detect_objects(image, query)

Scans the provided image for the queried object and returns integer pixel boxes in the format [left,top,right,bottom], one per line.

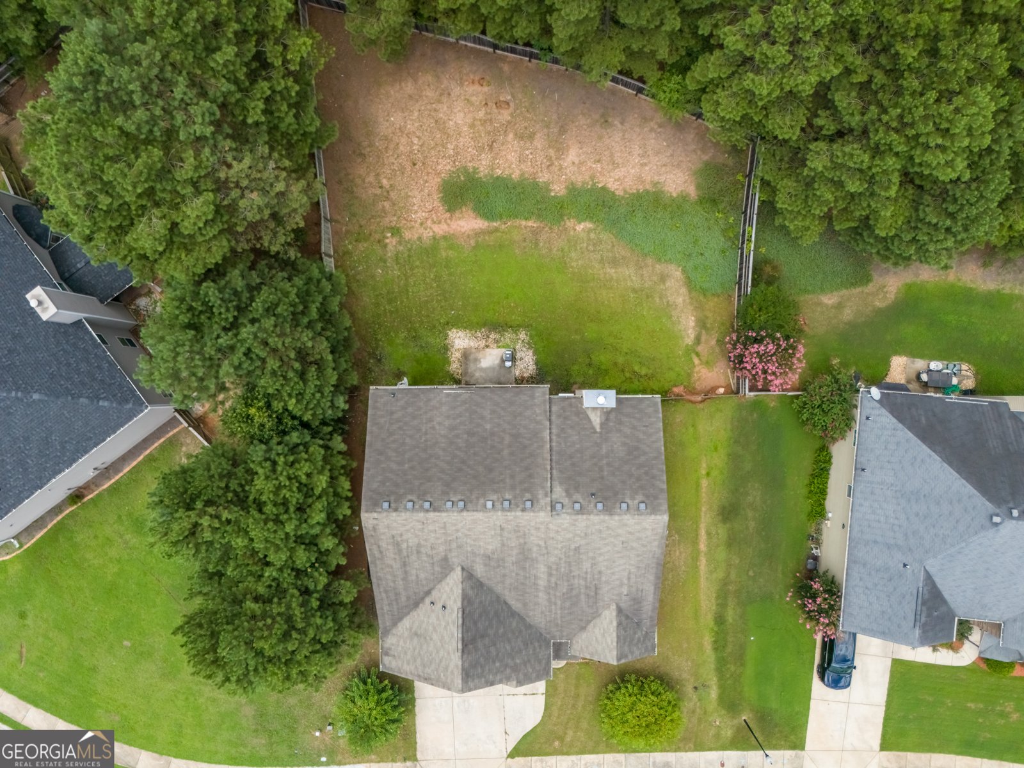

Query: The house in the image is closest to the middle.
[361,385,668,693]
